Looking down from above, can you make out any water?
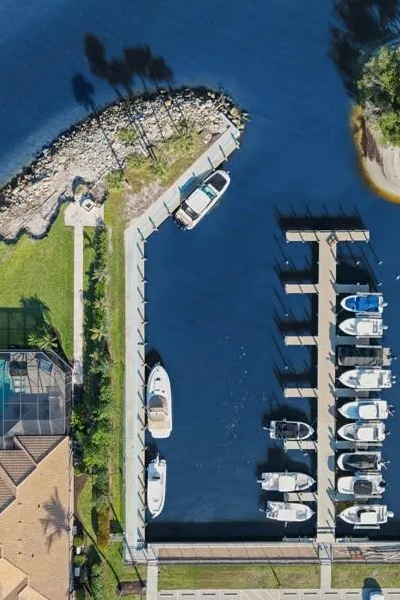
Yes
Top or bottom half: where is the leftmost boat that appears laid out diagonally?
top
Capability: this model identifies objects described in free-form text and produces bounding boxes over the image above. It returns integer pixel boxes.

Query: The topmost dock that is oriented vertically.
[285,228,369,543]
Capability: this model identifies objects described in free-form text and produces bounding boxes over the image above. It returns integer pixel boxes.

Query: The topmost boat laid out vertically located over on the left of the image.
[147,369,172,441]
